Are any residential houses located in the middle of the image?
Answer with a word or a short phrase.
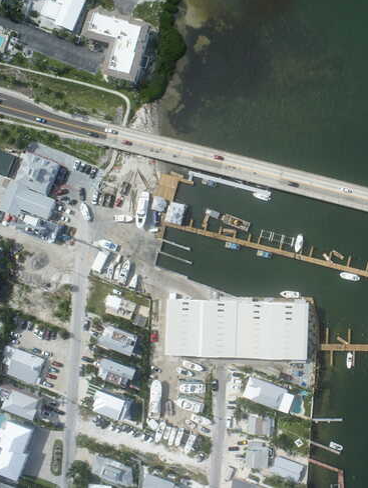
Yes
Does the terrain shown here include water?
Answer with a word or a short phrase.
Yes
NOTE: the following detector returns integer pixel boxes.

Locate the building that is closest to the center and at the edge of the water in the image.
[165,202,186,225]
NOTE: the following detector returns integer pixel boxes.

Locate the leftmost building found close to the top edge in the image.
[41,0,88,32]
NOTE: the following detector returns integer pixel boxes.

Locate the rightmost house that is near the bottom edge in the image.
[272,454,306,482]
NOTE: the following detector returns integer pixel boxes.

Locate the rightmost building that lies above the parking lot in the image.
[81,5,156,85]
